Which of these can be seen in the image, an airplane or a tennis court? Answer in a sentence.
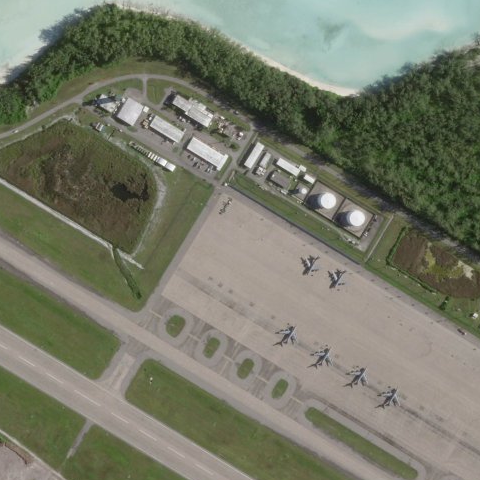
Visible in the photo is an airplane.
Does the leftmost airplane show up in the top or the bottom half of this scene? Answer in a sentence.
The leftmost airplane sits in the bottom half of the picture.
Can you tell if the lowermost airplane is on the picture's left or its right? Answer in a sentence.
The lowermost airplane appears in the right half of the scene.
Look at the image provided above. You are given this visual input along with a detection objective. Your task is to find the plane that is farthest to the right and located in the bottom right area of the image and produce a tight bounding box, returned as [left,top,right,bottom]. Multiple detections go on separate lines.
[378,388,399,410]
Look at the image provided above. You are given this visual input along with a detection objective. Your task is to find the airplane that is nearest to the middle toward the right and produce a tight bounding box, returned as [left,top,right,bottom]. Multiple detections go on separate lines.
[303,254,324,275]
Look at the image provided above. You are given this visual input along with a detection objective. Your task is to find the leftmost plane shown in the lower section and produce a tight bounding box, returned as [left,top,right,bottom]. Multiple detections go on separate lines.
[275,326,296,348]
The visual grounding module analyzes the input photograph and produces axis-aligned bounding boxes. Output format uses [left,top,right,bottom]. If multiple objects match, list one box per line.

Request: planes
[311,348,331,370]
[378,388,399,410]
[330,267,351,288]
[275,326,296,348]
[347,368,368,390]
[303,254,324,275]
